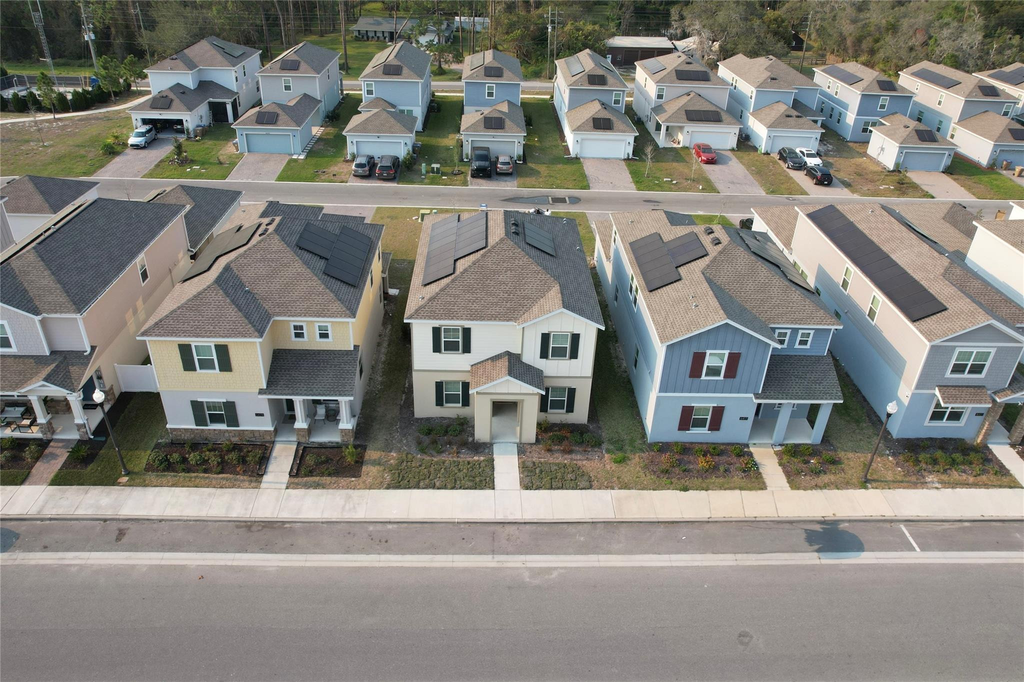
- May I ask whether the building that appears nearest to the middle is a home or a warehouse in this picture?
home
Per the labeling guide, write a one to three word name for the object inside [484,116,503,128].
solar array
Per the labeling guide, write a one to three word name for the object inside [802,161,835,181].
car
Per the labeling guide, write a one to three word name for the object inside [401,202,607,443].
house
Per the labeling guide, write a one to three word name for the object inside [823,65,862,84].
solar array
